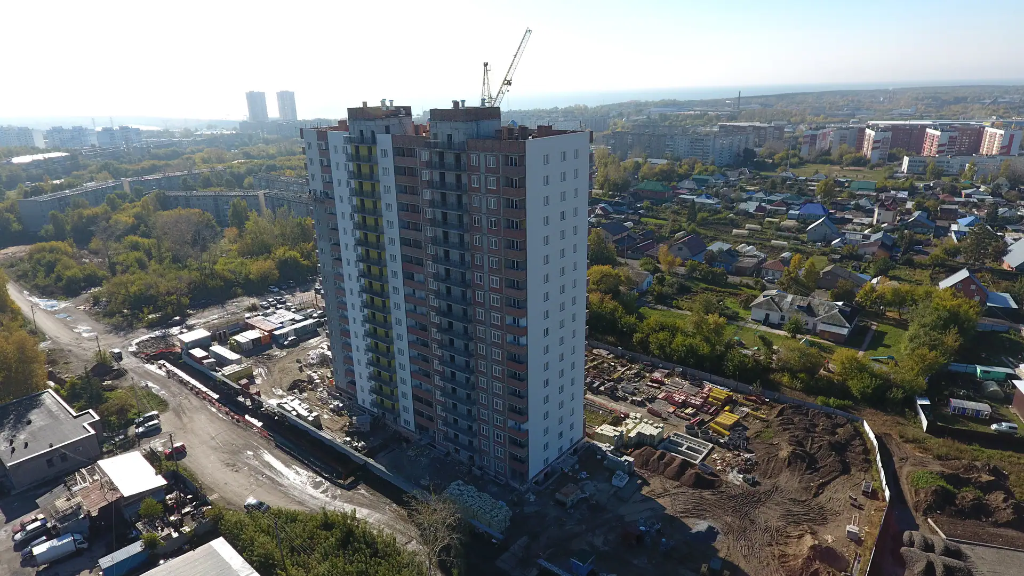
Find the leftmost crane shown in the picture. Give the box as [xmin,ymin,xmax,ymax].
[478,29,532,106]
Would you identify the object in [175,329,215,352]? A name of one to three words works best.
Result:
building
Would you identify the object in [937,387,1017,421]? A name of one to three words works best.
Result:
greenhouse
